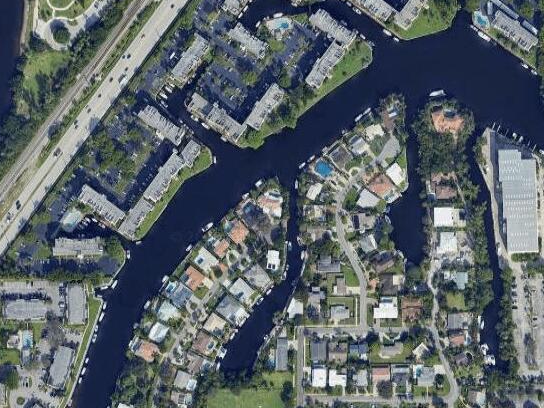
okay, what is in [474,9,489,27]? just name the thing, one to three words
swimming pool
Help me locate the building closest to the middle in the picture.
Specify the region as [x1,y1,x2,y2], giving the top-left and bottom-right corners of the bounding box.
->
[258,193,286,216]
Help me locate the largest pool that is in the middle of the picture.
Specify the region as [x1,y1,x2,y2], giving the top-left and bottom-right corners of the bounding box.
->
[304,154,340,184]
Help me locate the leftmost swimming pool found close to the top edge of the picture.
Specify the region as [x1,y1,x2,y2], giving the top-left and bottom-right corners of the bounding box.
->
[269,15,296,33]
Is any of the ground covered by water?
Yes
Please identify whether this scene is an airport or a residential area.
residential area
